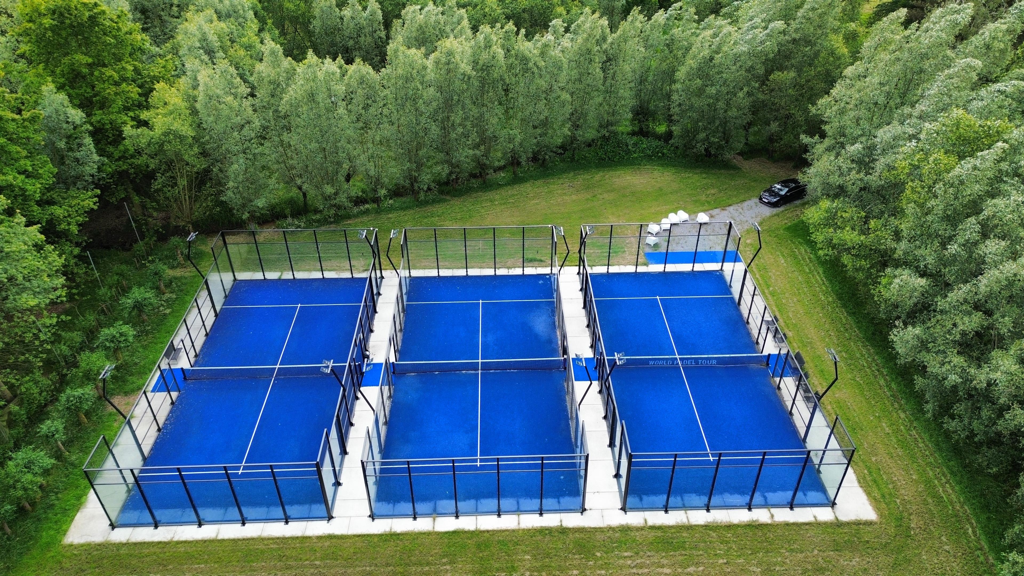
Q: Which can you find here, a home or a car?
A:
car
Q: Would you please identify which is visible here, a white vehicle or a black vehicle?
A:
black vehicle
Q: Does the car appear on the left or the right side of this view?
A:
right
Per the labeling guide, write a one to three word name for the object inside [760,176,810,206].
car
